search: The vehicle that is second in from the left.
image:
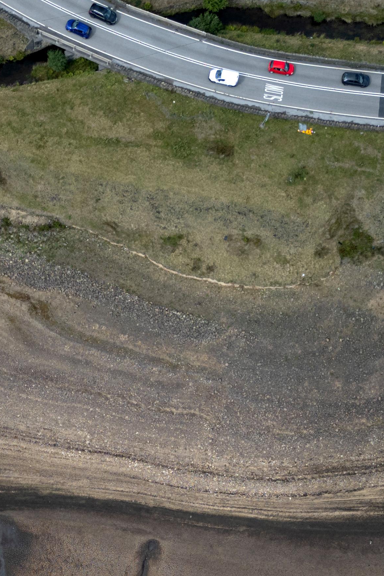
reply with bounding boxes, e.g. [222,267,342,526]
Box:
[88,3,118,25]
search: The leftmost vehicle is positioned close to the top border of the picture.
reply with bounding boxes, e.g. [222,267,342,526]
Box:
[67,21,93,39]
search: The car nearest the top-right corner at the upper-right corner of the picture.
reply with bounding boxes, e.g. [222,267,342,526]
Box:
[342,71,371,88]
